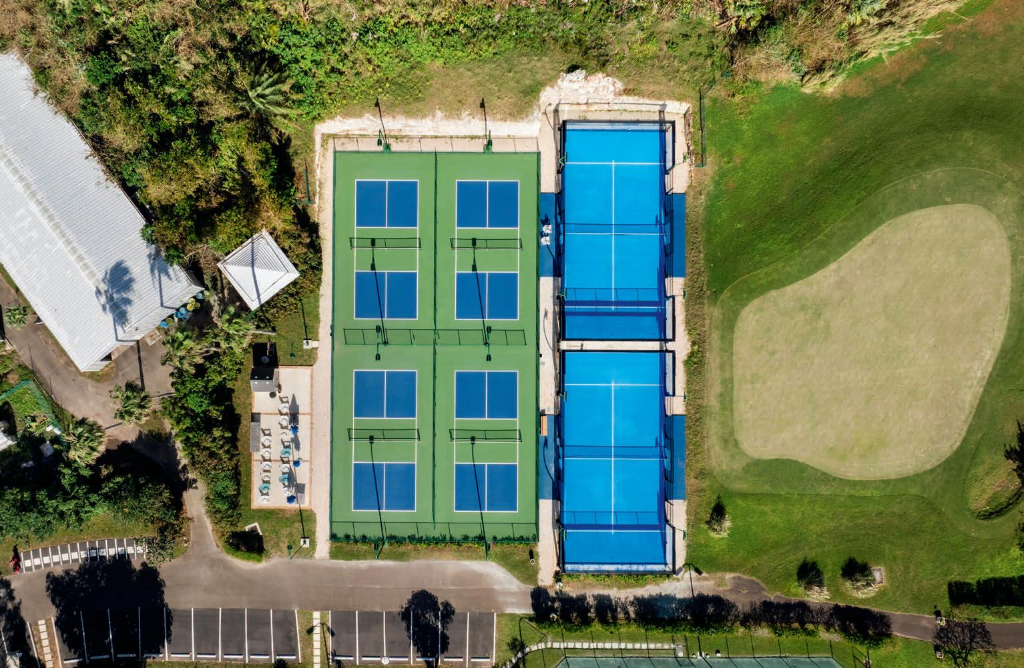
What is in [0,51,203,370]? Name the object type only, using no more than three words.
building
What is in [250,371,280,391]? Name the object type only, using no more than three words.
shed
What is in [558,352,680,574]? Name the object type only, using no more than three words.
sports court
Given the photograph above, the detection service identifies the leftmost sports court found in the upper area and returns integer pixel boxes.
[333,150,435,344]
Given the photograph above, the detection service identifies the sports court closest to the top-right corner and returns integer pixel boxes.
[560,120,681,340]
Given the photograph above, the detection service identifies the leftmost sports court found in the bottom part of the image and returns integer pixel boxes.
[331,344,434,540]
